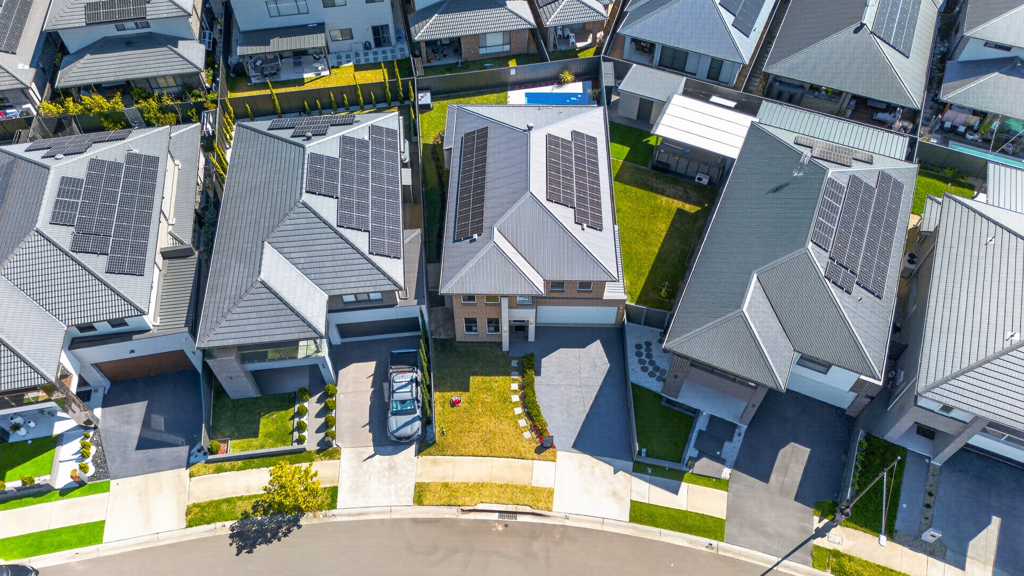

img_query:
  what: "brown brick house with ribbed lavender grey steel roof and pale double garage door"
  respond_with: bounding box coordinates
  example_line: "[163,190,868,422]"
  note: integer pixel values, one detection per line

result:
[437,104,631,351]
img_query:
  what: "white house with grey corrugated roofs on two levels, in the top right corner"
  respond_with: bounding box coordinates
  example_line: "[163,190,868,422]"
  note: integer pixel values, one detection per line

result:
[930,0,1024,148]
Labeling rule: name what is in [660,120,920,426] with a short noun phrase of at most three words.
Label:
house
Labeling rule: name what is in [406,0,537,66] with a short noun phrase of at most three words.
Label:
house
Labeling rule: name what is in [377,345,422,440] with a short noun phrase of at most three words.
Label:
truck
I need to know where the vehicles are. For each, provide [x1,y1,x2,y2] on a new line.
[0,559,42,576]
[377,345,422,440]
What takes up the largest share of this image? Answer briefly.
buildings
